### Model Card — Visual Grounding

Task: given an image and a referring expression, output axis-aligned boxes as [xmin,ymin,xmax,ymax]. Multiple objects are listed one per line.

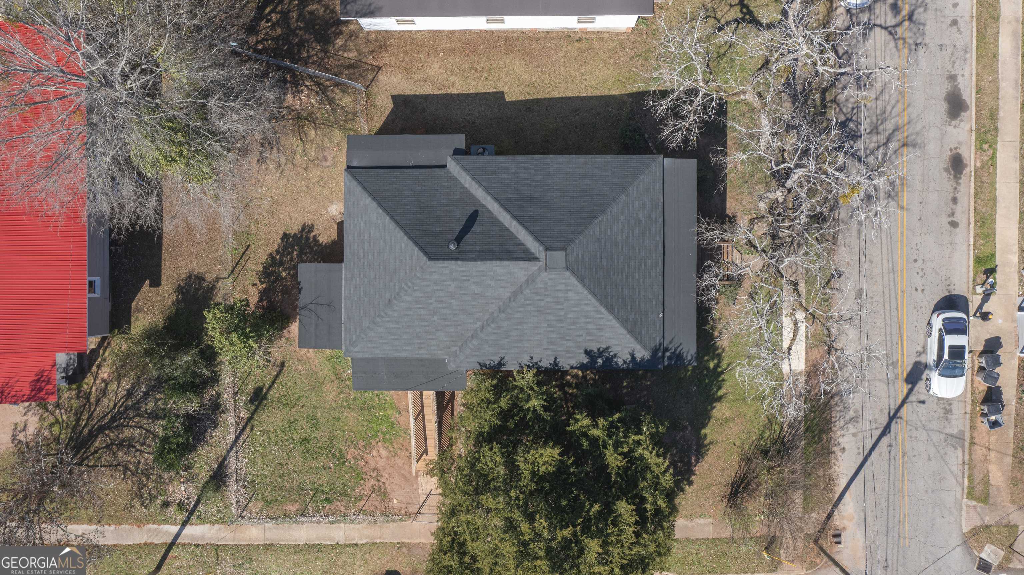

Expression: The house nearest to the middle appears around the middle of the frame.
[297,134,697,391]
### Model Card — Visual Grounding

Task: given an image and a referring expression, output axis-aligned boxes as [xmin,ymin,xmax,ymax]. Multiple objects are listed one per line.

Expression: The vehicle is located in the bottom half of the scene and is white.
[927,310,976,397]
